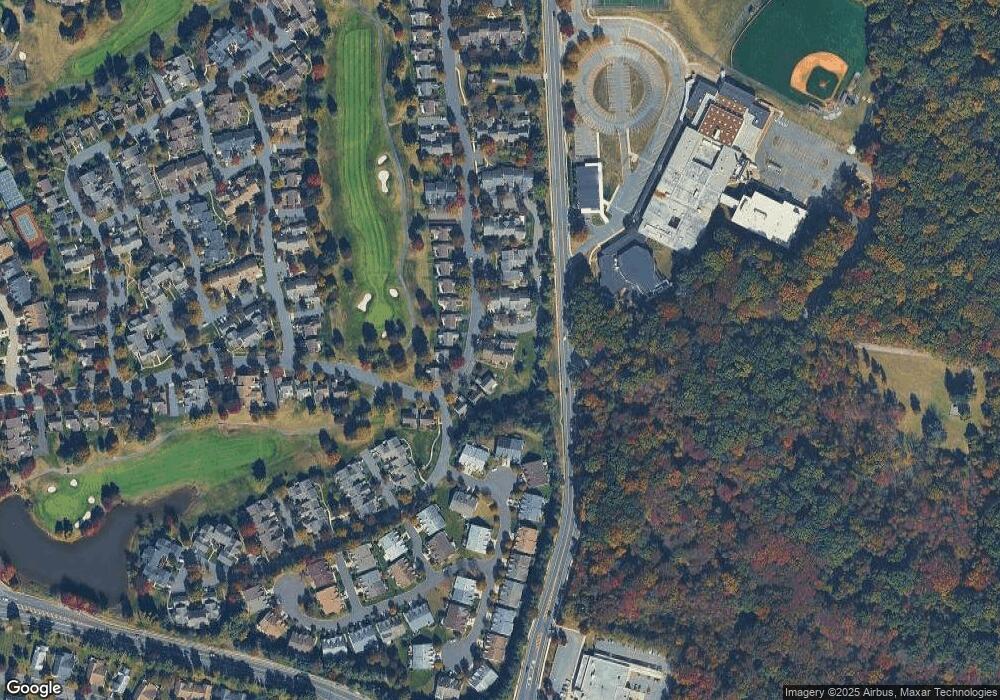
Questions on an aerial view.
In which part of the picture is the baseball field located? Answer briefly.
top right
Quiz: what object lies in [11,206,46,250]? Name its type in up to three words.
tennis court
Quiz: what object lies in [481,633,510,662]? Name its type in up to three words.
house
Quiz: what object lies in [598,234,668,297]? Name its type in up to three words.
building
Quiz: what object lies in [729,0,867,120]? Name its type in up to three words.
baseball field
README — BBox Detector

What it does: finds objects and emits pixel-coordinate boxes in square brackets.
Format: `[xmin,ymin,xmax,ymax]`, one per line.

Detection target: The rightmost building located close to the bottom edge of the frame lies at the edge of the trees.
[569,654,667,700]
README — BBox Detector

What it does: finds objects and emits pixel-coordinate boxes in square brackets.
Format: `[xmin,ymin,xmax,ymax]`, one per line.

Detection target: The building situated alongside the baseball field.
[638,79,808,249]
